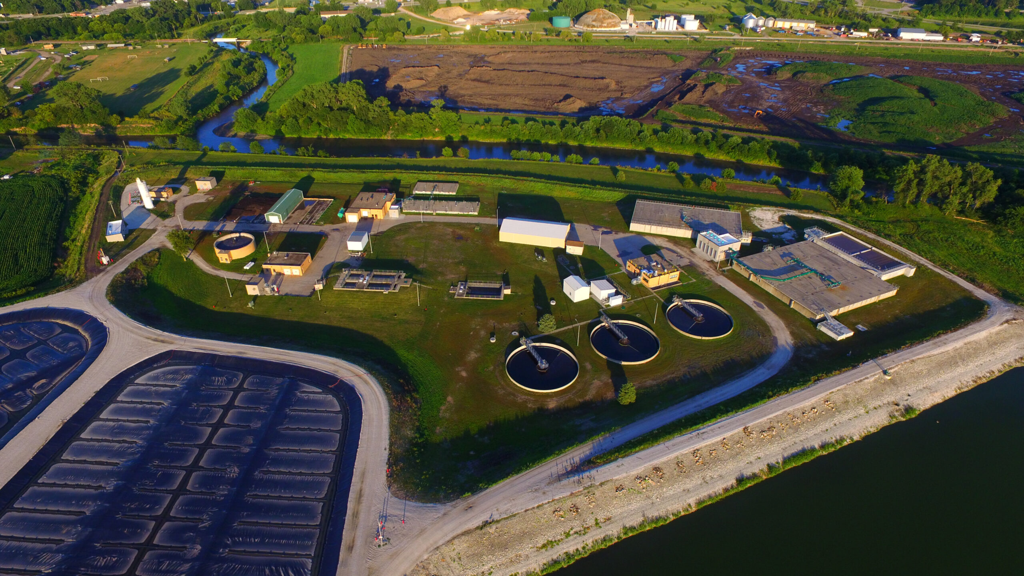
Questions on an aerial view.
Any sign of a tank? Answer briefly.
Yes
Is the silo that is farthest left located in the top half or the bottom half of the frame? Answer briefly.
top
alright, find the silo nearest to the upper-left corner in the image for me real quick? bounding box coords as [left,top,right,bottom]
[133,177,155,209]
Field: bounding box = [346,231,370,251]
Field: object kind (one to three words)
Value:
shed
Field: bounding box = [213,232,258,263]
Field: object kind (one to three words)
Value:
storage tank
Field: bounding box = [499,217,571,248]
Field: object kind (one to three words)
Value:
building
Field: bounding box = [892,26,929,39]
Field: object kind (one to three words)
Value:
building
